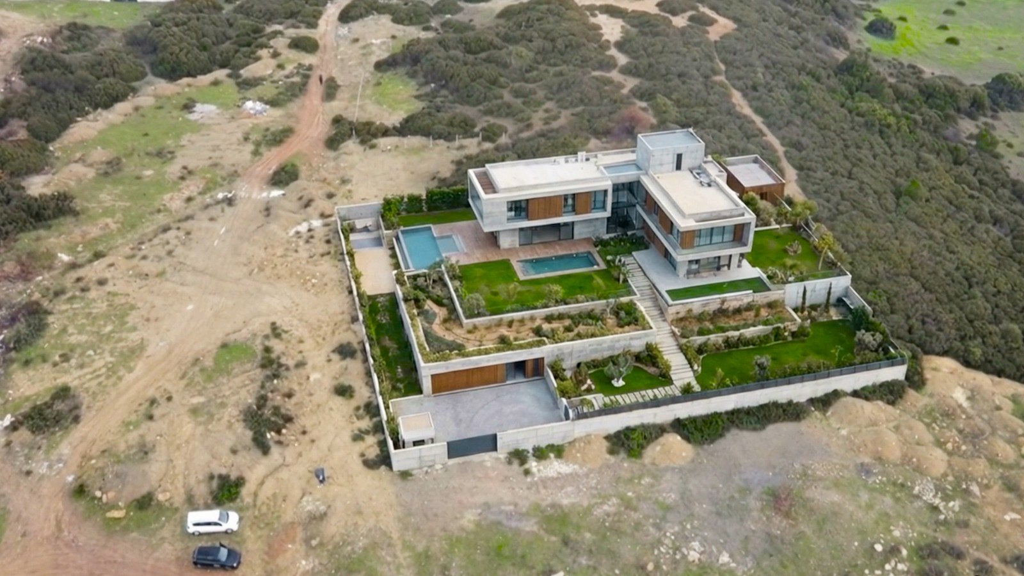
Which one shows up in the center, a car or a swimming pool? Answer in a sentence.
Visible in the center is a swimming pool.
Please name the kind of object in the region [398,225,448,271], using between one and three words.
swimming pool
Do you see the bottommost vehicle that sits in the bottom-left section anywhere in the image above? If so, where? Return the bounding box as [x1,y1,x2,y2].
[189,537,246,570]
